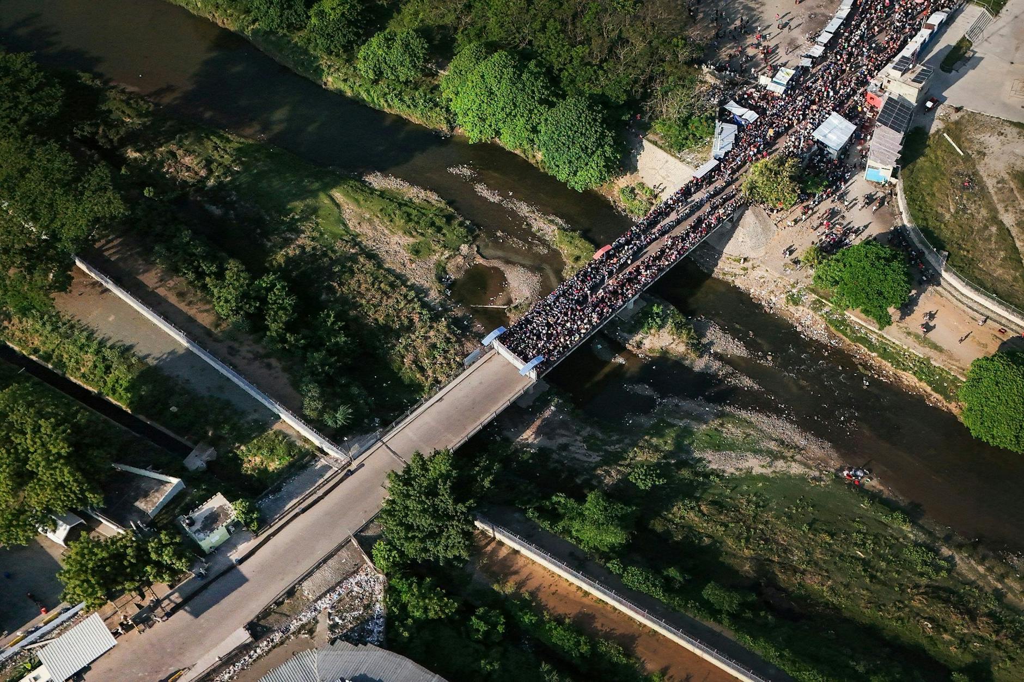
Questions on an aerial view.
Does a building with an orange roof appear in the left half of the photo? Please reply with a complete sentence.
No, I can find no building with an orange roof in the left half of the photo.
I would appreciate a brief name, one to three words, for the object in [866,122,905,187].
building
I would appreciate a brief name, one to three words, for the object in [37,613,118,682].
house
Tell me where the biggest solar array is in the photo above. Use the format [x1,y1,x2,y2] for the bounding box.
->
[876,96,913,133]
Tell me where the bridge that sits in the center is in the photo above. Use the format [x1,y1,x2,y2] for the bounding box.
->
[397,179,745,461]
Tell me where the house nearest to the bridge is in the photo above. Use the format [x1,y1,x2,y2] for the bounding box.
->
[711,120,737,171]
